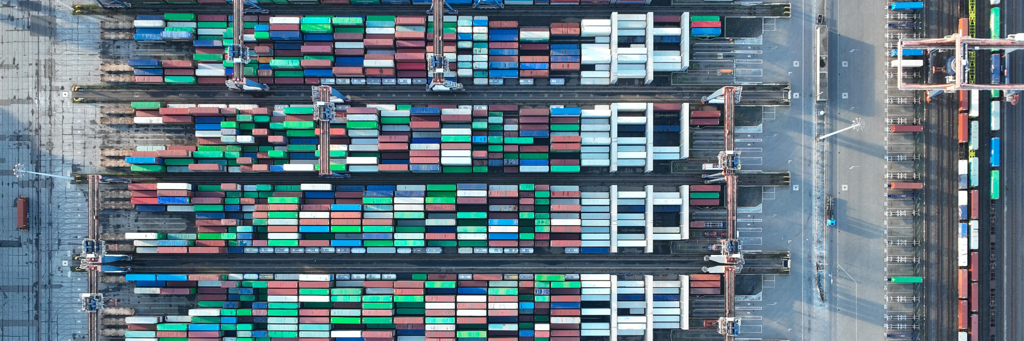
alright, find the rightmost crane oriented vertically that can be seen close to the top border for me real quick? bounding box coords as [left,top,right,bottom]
[427,0,460,90]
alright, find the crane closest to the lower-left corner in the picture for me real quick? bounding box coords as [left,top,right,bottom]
[75,265,137,341]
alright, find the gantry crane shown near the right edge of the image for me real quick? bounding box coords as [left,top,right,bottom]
[897,31,1024,106]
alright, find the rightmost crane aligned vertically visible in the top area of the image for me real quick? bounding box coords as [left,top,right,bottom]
[700,84,743,179]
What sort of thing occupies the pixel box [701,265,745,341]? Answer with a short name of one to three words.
crane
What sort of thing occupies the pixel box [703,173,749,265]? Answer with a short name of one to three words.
crane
